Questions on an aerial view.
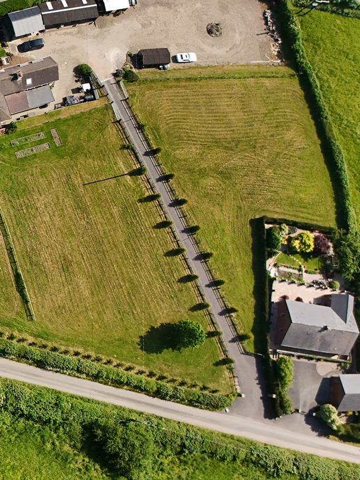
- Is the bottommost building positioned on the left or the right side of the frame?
right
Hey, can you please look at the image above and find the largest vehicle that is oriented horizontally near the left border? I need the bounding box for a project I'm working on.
[18,38,45,54]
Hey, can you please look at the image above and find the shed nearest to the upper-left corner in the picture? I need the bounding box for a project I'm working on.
[7,6,45,40]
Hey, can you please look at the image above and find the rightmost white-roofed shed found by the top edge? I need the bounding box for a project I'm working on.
[101,0,130,16]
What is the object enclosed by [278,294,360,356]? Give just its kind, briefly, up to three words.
house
